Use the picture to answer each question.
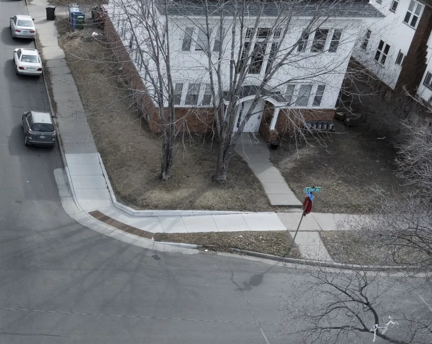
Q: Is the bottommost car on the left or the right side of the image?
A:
left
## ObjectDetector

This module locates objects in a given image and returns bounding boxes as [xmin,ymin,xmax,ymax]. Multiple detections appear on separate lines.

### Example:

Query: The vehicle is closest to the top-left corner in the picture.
[8,13,35,39]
